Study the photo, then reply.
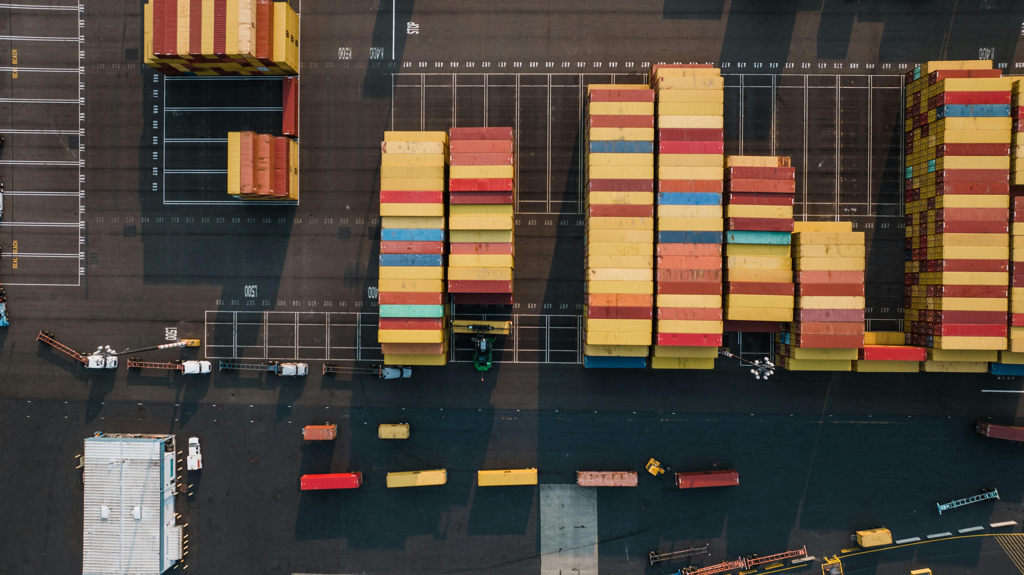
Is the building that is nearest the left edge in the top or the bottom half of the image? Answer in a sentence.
The building that is nearest the left edge sits in the bottom half of the picture.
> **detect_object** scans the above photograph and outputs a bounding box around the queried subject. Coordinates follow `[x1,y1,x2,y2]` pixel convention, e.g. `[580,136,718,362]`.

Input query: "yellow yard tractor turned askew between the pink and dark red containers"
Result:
[645,458,668,477]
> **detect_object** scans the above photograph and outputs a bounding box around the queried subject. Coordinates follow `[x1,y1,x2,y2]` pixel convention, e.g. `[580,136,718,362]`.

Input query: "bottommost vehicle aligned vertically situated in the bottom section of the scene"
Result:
[188,435,202,470]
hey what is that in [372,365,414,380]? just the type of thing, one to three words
vehicle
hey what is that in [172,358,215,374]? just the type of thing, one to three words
vehicle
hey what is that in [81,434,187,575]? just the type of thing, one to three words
building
